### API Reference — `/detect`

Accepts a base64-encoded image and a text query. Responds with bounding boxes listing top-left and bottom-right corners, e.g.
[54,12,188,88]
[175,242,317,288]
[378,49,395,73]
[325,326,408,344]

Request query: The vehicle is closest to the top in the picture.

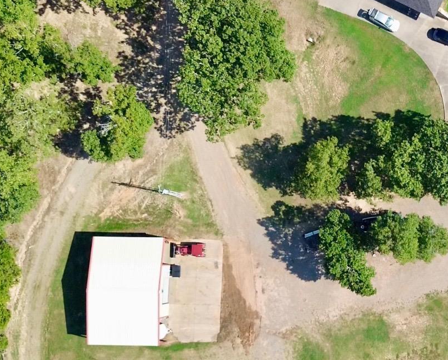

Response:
[365,5,402,33]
